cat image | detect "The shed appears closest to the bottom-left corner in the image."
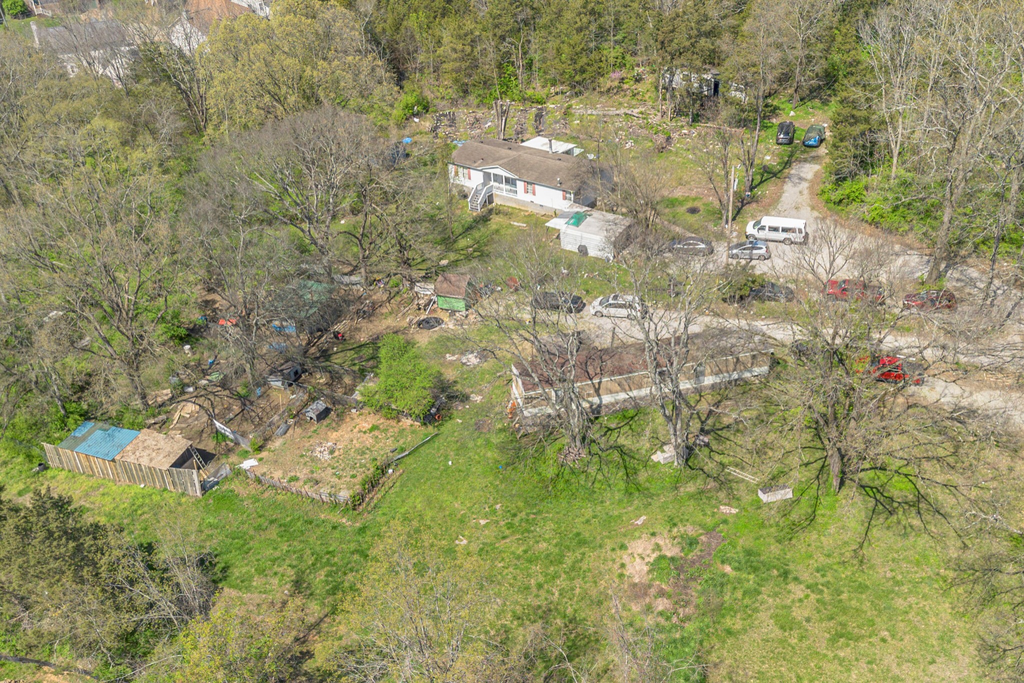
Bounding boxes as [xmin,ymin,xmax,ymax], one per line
[48,409,197,491]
